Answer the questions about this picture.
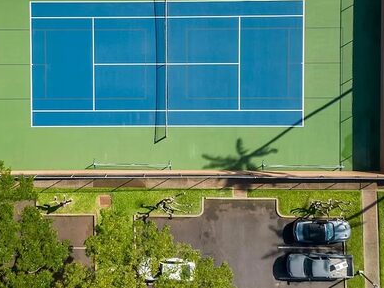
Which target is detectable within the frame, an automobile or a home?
automobile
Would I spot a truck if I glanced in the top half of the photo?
No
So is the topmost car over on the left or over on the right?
right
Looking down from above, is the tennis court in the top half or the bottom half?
top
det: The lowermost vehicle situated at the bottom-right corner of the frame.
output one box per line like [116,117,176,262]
[286,251,355,281]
